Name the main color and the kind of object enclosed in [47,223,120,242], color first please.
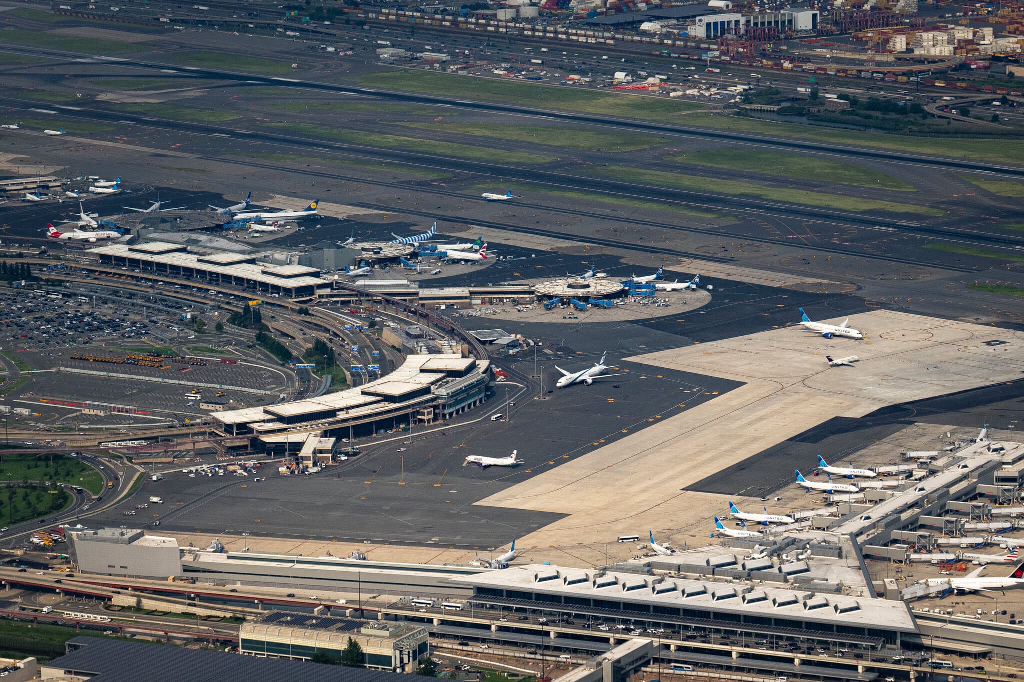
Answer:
white airplane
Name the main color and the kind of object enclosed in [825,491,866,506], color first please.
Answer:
white jet bridge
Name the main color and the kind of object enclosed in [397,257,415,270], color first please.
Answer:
blue jet bridge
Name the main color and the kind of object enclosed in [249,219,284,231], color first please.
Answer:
white airplane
